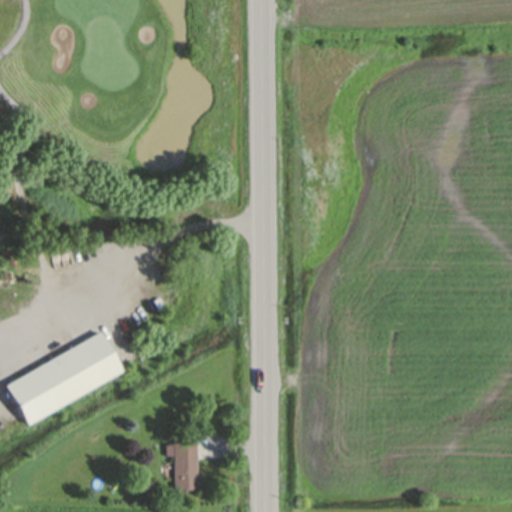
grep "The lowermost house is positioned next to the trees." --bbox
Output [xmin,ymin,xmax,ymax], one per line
[166,444,198,490]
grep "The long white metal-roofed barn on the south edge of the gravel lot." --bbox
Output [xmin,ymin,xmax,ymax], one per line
[7,332,123,426]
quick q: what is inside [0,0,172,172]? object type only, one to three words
golf course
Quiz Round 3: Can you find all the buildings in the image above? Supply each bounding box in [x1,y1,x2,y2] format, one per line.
[7,332,123,426]
[166,444,198,490]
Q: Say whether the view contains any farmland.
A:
Yes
